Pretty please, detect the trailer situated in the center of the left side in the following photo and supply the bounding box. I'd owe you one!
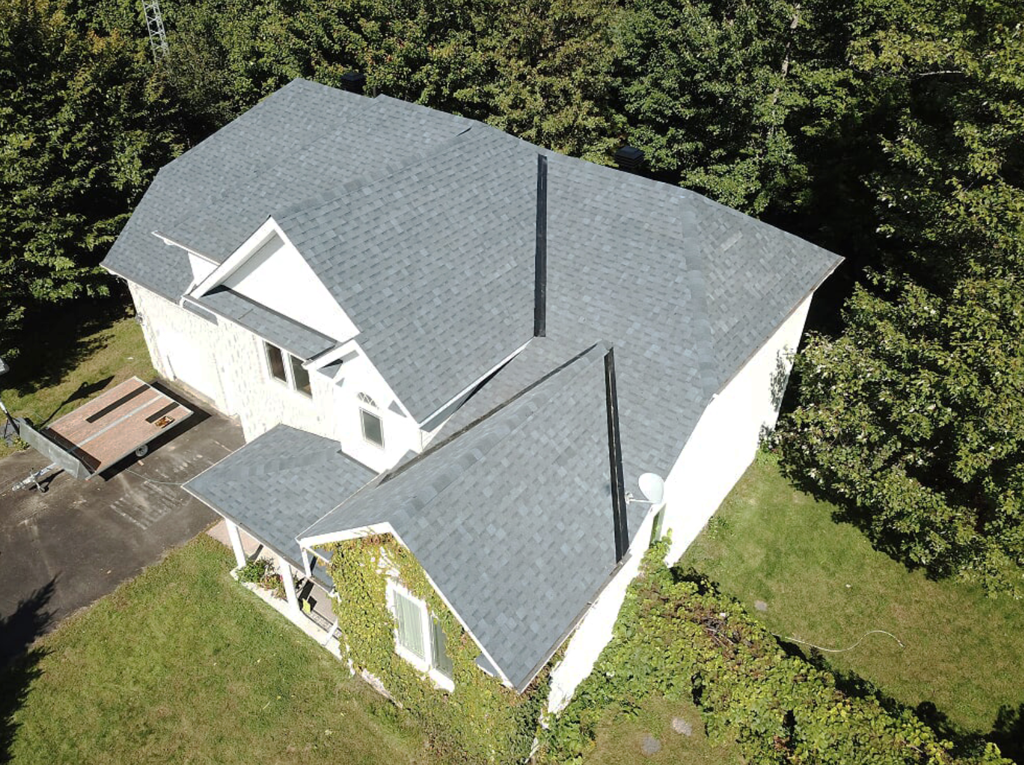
[4,376,195,493]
